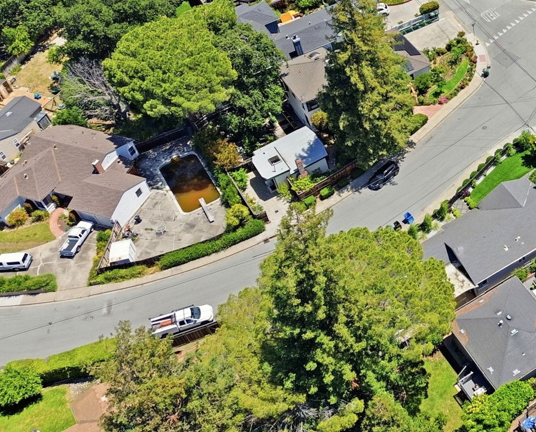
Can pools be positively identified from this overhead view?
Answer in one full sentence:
Yes, a pool can be made out from above.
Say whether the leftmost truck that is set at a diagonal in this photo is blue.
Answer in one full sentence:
No, from above the leftmost truck that is set at a diagonal looks white.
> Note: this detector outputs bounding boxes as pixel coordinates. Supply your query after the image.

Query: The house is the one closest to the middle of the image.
[252,128,329,196]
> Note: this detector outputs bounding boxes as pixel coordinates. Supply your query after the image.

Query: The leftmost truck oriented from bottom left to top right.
[51,218,98,264]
